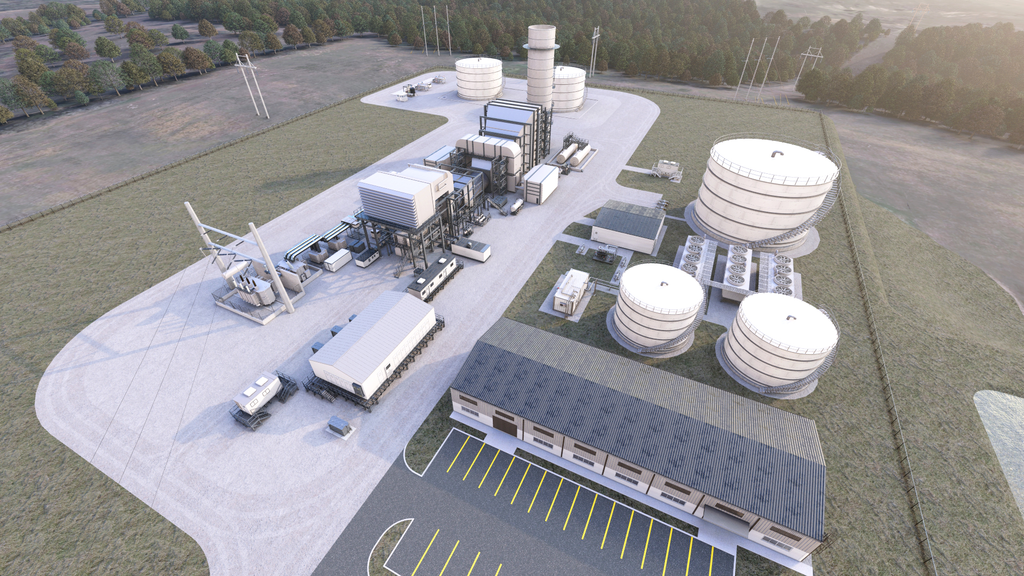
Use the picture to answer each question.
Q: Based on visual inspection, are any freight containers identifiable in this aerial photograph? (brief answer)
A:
Yes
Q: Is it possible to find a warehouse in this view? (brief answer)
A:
Yes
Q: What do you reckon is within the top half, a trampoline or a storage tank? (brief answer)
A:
storage tank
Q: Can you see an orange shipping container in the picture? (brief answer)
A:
No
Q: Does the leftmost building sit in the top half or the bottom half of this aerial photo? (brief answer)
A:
bottom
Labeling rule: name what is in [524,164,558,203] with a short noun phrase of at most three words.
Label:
house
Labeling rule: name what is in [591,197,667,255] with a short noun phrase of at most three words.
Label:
building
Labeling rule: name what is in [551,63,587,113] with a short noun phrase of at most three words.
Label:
storage tank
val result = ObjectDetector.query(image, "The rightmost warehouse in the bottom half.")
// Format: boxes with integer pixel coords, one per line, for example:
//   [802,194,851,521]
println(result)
[451,316,831,564]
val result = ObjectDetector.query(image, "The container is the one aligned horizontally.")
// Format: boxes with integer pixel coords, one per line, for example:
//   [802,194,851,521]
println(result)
[451,237,491,263]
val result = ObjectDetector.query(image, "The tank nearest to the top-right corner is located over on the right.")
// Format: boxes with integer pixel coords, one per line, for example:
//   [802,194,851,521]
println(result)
[692,135,840,248]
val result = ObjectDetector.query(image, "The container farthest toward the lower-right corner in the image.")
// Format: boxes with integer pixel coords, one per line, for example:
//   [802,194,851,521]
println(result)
[554,268,590,311]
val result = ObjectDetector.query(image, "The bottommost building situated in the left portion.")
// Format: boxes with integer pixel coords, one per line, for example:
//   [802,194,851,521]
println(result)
[231,370,284,417]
